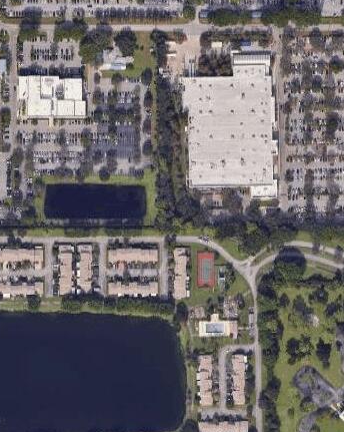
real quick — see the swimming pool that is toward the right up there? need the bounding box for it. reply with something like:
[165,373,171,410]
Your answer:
[199,321,231,337]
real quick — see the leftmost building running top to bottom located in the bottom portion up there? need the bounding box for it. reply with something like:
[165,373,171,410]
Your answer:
[60,245,74,295]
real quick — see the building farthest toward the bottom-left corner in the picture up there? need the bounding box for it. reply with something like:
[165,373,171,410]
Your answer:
[0,281,43,298]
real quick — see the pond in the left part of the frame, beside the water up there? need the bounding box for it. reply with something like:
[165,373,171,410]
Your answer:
[43,184,148,220]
